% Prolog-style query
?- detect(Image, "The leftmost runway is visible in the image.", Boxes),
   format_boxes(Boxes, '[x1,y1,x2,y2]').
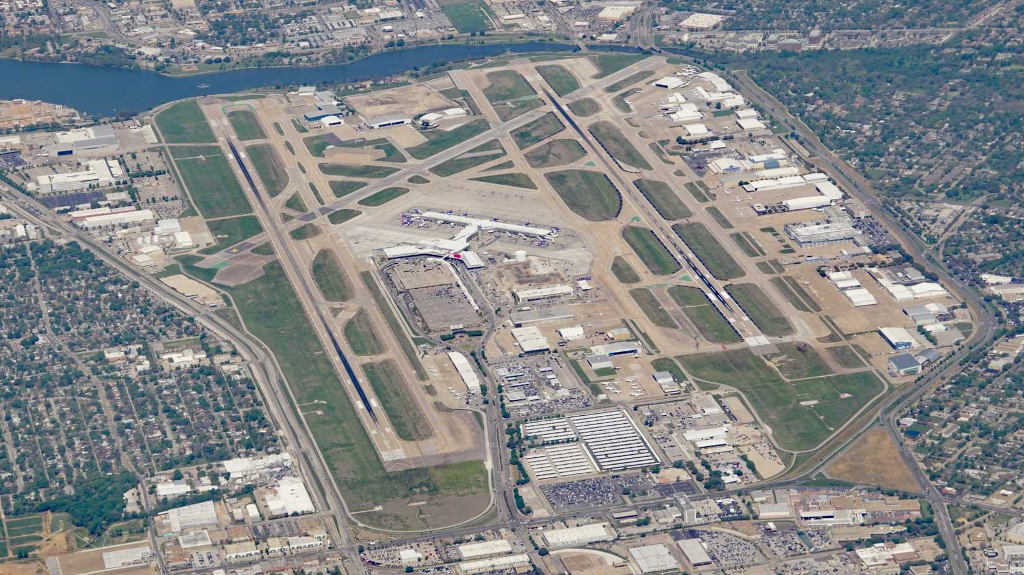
[198,100,409,461]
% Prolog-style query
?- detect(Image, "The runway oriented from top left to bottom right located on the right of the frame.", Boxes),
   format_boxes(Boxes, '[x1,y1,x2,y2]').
[515,68,773,346]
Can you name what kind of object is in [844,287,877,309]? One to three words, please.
hangar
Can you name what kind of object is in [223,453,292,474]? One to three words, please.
building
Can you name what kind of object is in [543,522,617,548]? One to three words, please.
building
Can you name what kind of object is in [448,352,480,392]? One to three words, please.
hangar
